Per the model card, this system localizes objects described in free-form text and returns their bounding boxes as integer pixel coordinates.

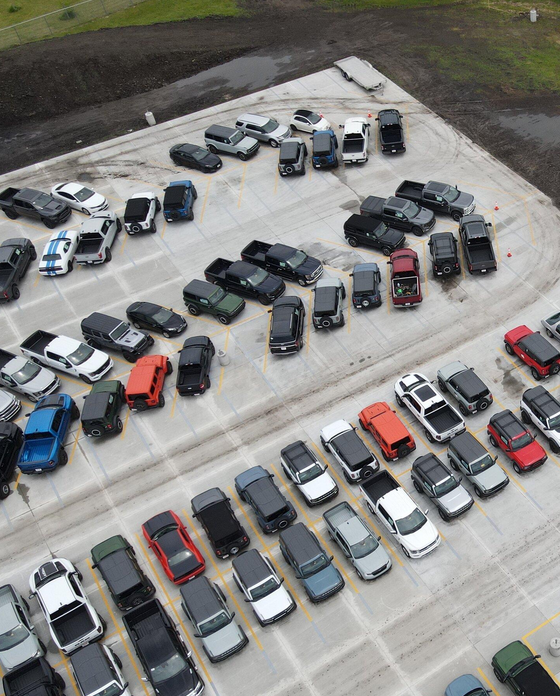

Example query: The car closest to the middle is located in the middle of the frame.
[269,296,309,358]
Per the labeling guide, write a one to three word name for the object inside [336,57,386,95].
trailer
